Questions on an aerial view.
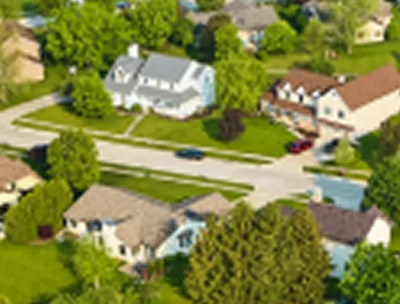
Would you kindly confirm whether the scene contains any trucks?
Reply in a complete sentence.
No, no truck can be seen from above.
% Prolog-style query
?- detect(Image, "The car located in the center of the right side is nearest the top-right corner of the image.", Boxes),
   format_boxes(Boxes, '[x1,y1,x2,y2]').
[322,138,343,156]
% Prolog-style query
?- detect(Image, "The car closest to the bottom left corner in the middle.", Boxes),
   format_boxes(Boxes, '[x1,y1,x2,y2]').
[174,147,205,162]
